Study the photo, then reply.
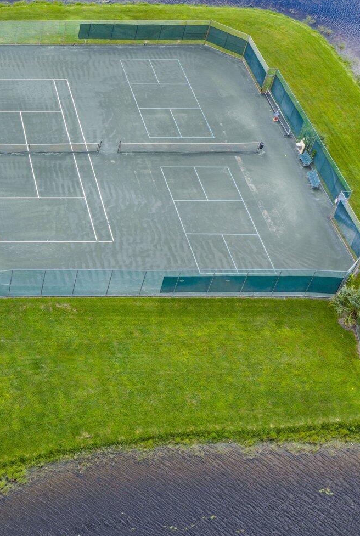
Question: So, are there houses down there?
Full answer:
No, no house is visible in the view.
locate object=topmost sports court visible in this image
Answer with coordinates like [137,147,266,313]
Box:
[86,44,300,153]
